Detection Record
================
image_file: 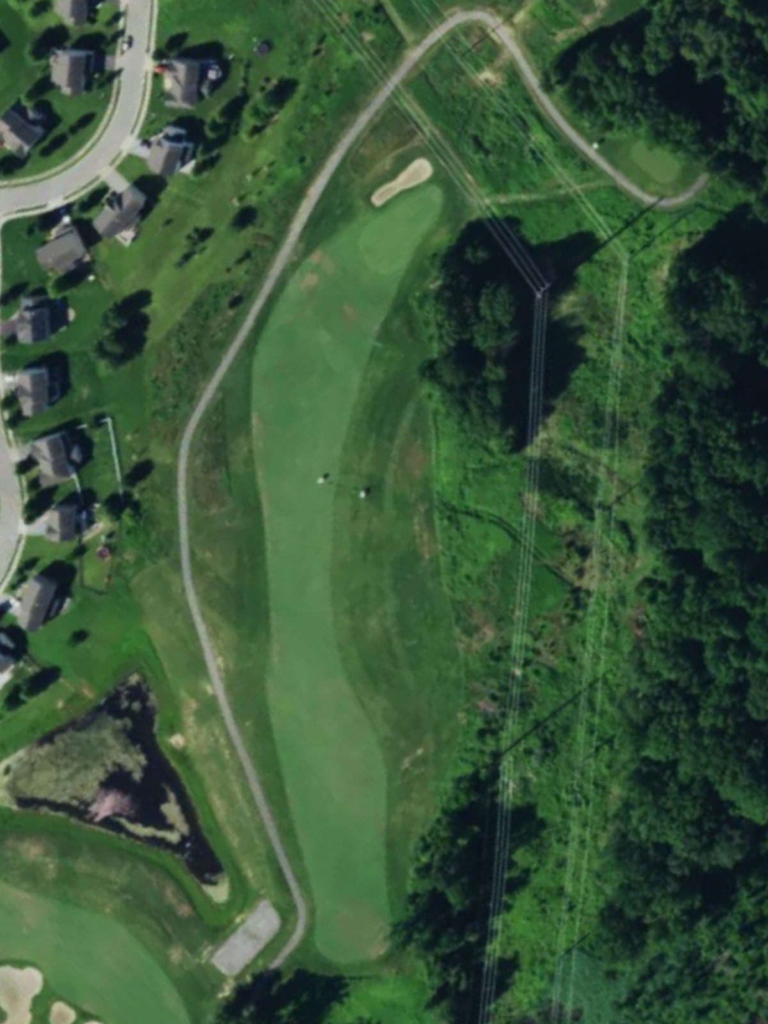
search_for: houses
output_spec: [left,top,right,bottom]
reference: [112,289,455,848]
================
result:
[0,105,41,158]
[50,49,92,94]
[18,295,52,346]
[160,59,211,108]
[27,433,78,486]
[12,576,64,632]
[0,637,20,678]
[90,177,151,244]
[47,0,90,26]
[43,504,86,543]
[145,123,191,178]
[14,369,59,418]
[35,218,92,278]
